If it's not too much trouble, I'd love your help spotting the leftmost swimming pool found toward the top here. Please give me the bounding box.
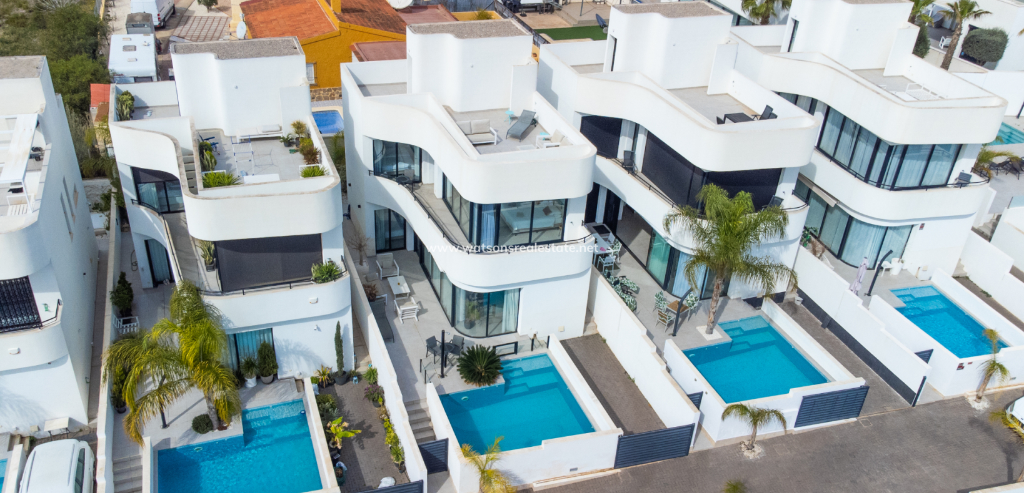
[313,107,345,142]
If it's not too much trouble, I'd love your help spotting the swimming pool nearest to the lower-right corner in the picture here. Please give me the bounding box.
[891,285,1007,356]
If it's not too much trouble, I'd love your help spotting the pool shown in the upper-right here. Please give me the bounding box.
[995,121,1024,148]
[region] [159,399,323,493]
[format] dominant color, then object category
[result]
blue swimming pool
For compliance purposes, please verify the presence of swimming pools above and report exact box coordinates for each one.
[159,399,323,493]
[691,314,826,400]
[995,121,1024,148]
[891,285,1007,356]
[443,353,594,456]
[313,107,345,142]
